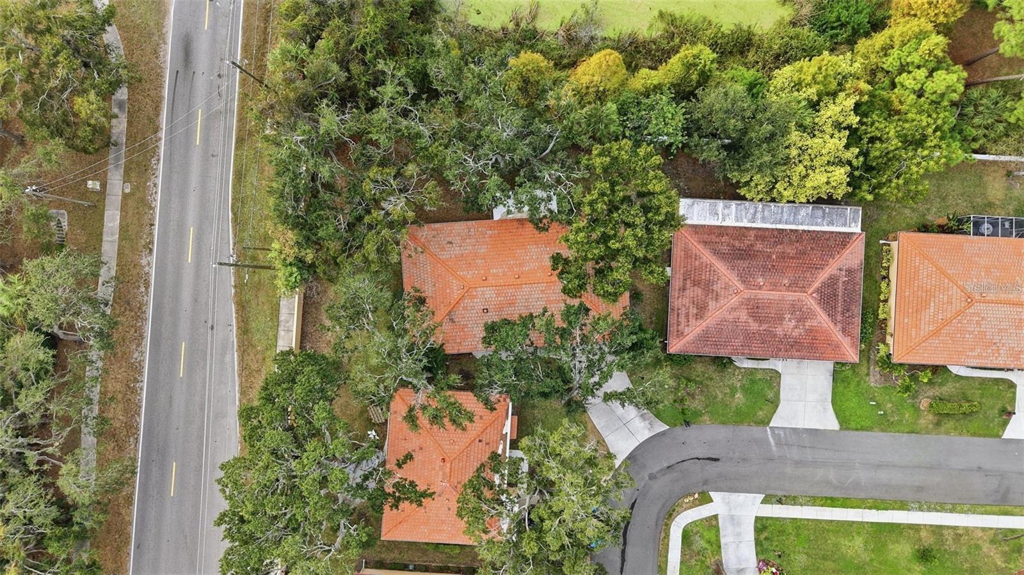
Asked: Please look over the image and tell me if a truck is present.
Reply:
No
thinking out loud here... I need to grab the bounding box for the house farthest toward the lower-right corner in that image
[884,230,1024,370]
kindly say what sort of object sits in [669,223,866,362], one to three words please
house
